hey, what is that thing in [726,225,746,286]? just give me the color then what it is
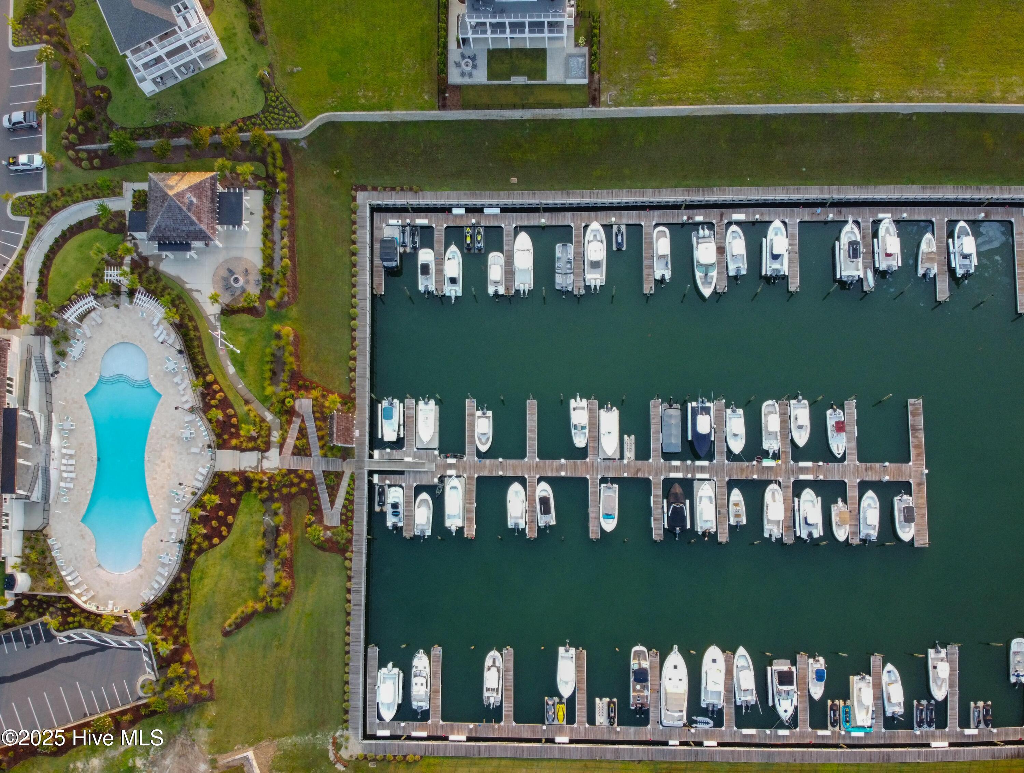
white boat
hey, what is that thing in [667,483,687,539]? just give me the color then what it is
black boat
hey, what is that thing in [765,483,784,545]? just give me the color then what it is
white boat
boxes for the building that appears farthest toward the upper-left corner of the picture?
[94,0,230,97]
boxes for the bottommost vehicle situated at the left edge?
[1,152,44,171]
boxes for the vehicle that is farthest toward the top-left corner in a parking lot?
[2,110,37,130]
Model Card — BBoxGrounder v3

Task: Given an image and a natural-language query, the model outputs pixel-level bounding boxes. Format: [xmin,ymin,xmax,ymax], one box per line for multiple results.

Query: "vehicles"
[1,152,44,171]
[2,110,37,130]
